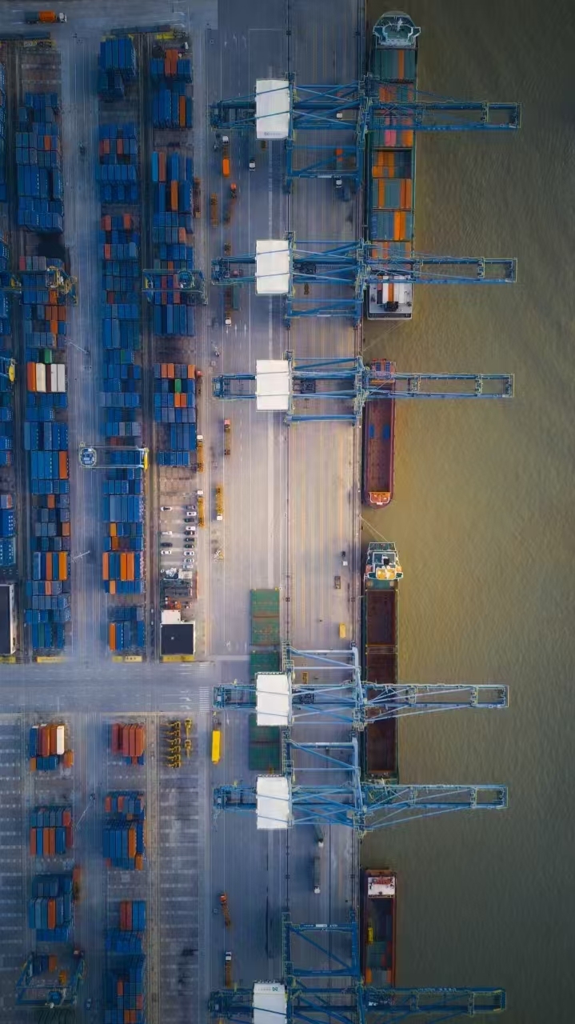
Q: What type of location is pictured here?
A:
port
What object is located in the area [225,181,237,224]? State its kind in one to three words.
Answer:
vehicle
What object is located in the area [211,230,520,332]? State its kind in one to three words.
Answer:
container crane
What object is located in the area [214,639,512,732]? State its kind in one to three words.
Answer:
container crane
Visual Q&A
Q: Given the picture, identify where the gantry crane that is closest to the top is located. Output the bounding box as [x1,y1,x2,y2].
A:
[210,60,522,195]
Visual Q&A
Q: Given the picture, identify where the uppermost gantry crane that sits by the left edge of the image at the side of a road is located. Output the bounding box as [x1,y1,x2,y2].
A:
[0,271,77,317]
